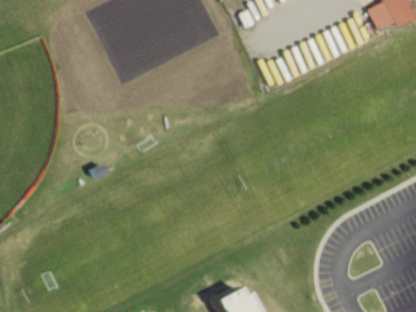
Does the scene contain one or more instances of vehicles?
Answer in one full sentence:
Yes, you can see a vehicle in this photo.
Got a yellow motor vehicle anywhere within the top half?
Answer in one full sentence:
Yes, the scene does show a yellow motor vehicle within the top half.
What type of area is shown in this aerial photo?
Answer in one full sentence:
The area seen from above is a sports ground.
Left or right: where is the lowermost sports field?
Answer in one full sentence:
It is on the left.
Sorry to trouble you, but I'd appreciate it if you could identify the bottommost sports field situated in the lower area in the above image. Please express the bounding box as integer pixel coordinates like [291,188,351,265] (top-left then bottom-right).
[0,134,268,312]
